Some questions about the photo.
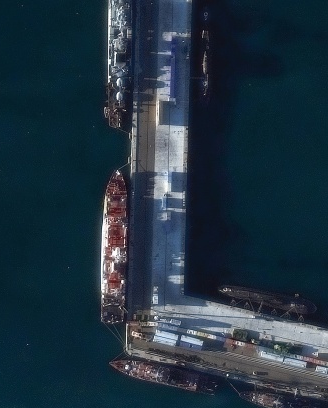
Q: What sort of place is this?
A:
port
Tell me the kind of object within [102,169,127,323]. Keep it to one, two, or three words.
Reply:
ship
